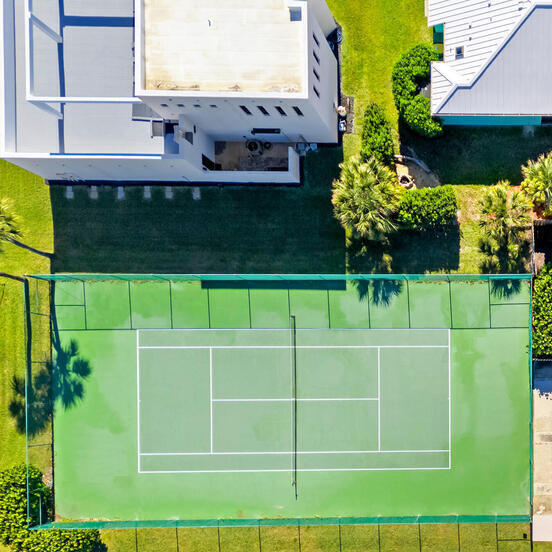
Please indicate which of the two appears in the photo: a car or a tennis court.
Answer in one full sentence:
There is a tennis court in the scene.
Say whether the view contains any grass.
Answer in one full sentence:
Yes, the picture does contain grass.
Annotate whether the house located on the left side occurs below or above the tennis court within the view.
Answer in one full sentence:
Relative to the tennis court, the house located on the left side lies above it.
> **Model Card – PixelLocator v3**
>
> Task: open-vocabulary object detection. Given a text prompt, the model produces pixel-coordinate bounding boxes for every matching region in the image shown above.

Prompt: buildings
[1,0,337,184]
[428,0,552,125]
